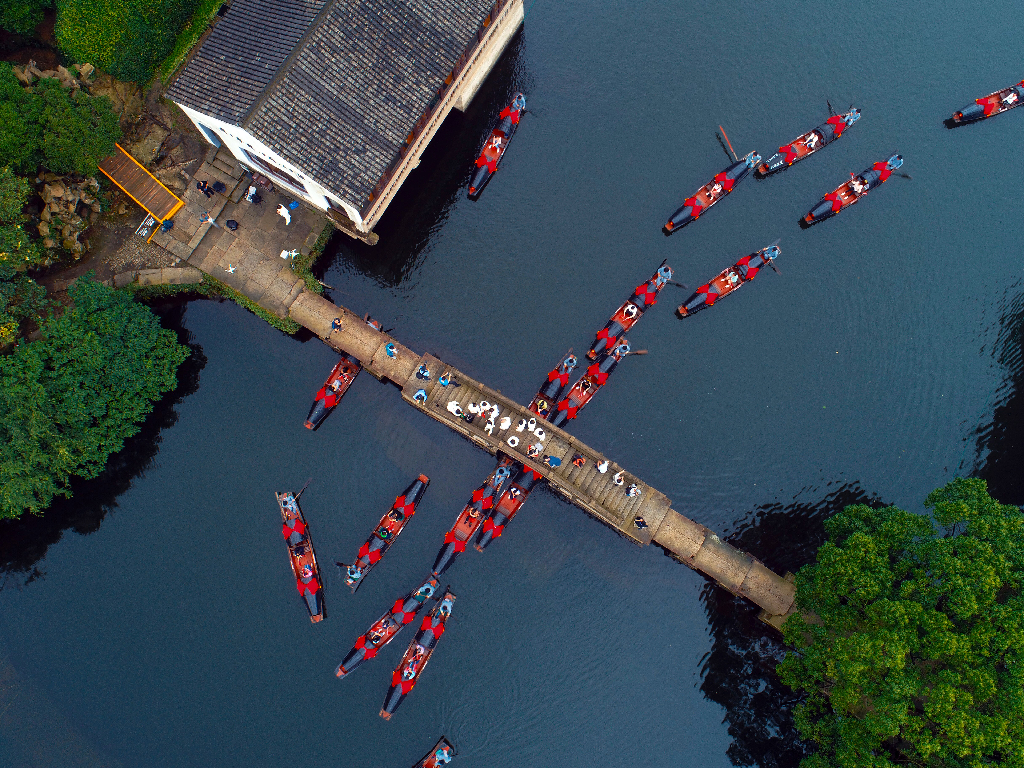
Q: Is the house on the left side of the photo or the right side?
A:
left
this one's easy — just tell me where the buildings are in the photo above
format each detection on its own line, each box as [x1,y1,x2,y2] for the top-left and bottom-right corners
[163,0,524,265]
